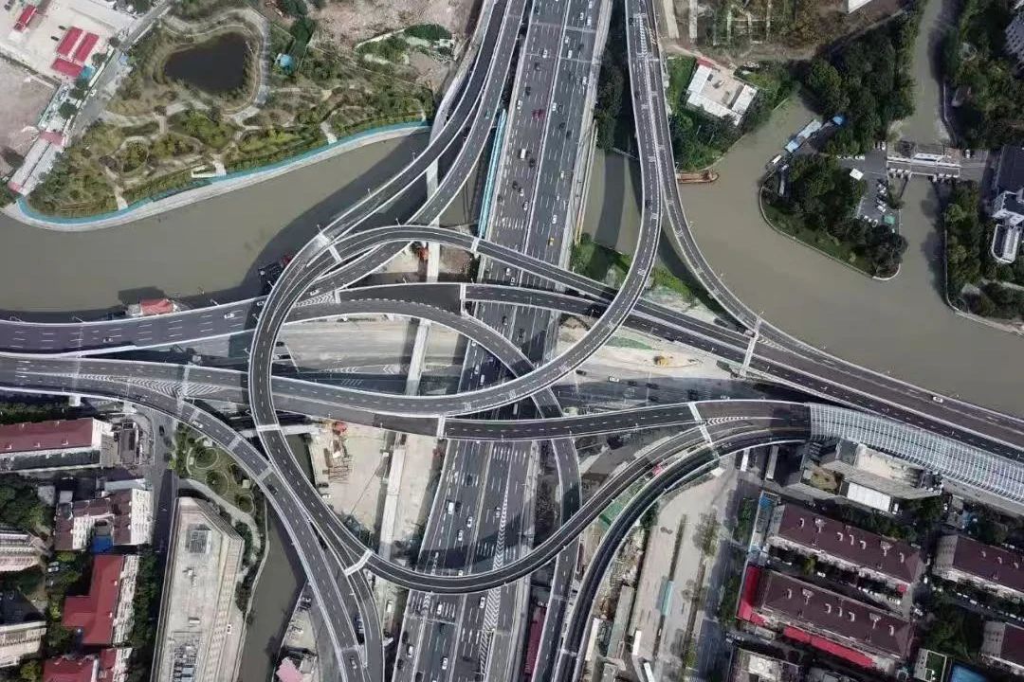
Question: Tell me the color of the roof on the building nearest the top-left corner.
red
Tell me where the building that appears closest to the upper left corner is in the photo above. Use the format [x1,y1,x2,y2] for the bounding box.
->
[15,4,41,37]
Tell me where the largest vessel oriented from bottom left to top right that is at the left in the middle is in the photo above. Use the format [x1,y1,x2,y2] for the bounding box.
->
[253,256,290,286]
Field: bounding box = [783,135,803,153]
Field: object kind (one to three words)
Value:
boat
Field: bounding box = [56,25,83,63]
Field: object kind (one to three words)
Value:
building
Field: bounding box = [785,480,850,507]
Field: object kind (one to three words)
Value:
shed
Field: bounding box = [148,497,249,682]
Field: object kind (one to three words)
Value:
building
